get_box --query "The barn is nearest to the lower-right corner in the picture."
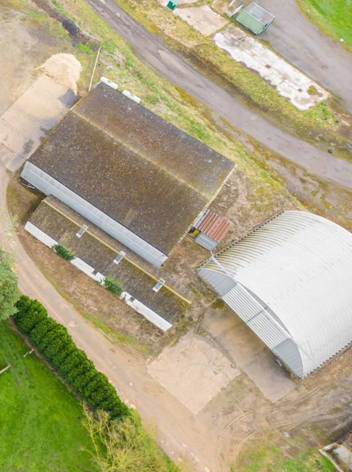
[197,210,352,379]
